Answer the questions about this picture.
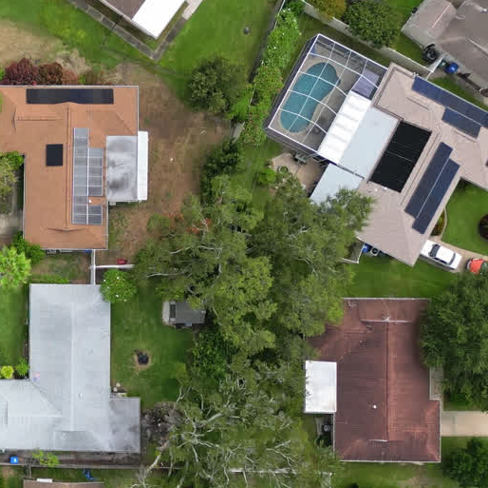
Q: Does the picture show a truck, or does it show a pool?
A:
pool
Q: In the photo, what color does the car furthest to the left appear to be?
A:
white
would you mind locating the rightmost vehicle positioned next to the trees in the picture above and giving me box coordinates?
[462,256,488,278]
